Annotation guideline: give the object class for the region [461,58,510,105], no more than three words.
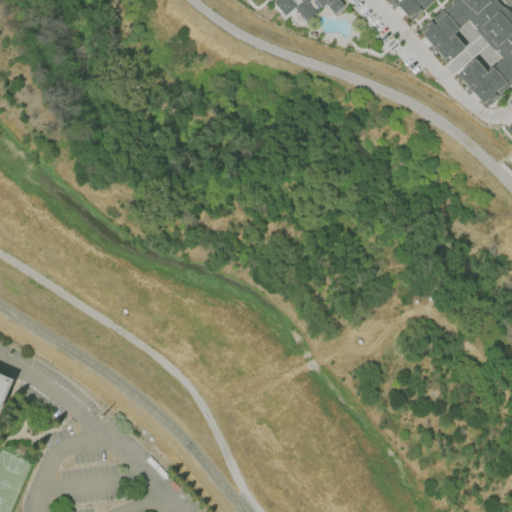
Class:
building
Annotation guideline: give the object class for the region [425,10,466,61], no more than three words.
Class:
building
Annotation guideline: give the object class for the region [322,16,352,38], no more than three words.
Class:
swimming pool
